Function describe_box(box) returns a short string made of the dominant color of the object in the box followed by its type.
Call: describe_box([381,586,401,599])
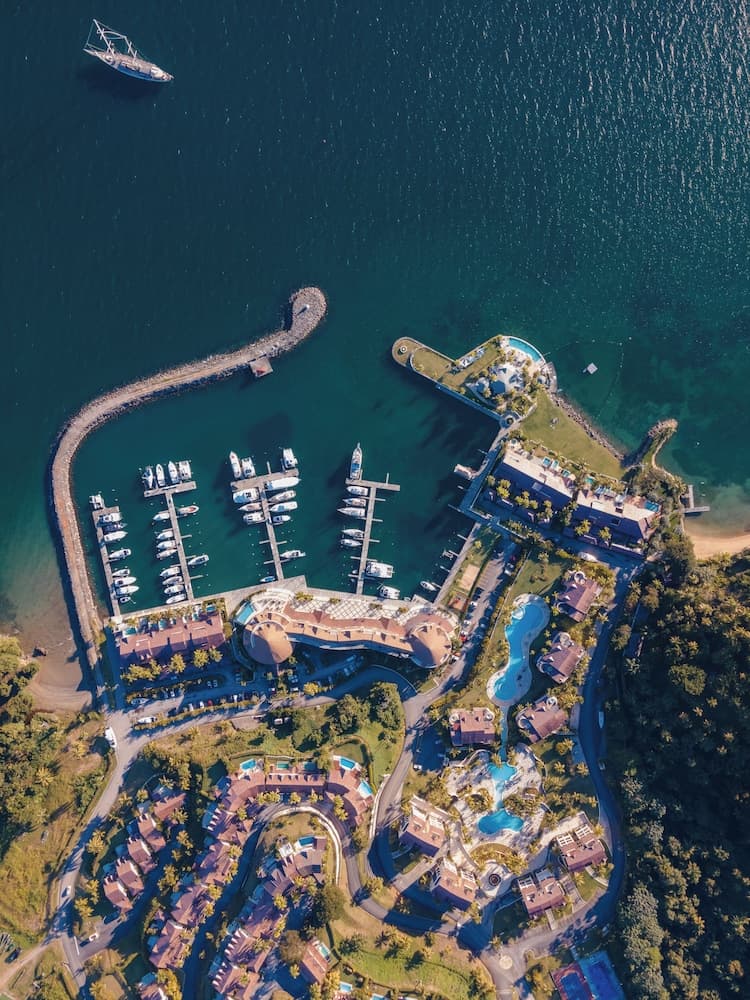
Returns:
white boat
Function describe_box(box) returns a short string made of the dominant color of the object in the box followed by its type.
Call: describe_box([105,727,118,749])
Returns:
white vehicle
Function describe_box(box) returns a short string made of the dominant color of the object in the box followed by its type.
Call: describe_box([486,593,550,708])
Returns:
blue swimming pool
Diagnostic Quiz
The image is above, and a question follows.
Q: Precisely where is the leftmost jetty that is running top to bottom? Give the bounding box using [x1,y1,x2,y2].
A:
[92,505,120,614]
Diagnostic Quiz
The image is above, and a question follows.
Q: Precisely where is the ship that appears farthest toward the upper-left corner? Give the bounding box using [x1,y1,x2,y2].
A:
[81,22,167,84]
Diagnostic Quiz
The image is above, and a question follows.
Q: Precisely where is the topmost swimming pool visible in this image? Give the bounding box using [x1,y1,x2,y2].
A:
[507,338,545,368]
